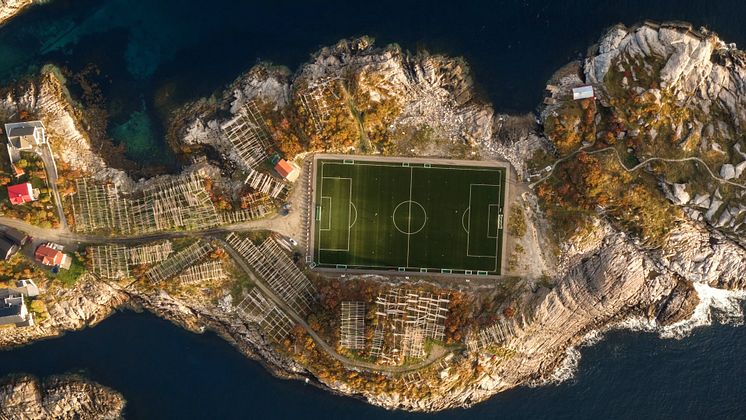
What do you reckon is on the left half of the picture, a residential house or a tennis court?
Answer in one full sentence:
Visible on the left half of the picture is a residential house.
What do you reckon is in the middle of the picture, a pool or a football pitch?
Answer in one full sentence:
It is a football pitch that can be seen in the middle of the picture.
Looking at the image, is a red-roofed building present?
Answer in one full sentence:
Yes, you can see a red-roofed building in this photo.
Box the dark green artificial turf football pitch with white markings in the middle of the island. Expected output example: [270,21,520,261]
[309,155,514,280]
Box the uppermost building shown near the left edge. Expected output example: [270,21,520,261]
[6,119,46,151]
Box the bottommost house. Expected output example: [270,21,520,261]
[0,288,35,330]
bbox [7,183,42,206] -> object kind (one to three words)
house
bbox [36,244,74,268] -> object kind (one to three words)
house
